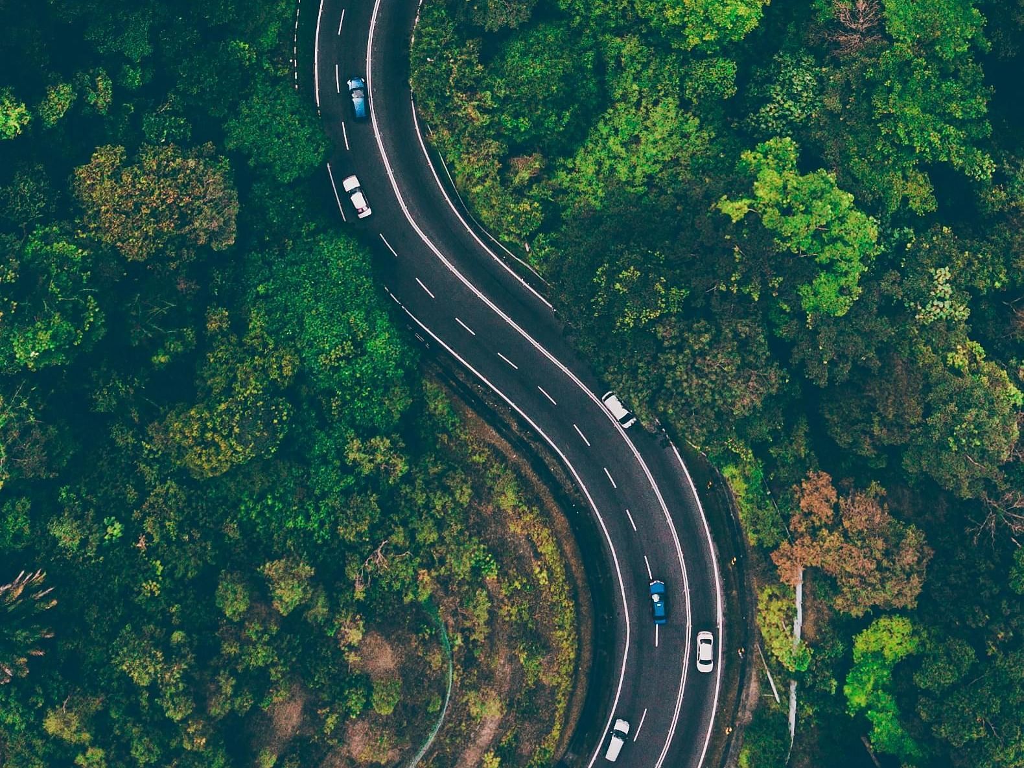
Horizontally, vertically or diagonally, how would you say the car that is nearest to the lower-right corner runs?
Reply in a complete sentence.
In this picture, the car that is nearest to the lower-right corner is oriented vertically.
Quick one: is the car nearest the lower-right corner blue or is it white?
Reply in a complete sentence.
The car nearest the lower-right corner looks white in the image.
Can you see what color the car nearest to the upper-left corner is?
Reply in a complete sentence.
The color of the car nearest to the upper-left corner is blue.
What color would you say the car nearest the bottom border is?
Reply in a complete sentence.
In this view, the car nearest the bottom border is white.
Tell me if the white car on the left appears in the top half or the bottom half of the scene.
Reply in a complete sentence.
You can find the white car on the left in the top half.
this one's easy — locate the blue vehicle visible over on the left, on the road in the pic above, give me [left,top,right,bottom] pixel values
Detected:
[347,79,370,123]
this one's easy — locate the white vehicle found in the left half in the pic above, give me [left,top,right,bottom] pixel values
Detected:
[343,174,374,220]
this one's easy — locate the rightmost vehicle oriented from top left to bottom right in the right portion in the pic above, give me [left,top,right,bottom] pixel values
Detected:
[600,389,636,430]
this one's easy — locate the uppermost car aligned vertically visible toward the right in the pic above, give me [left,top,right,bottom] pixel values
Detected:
[649,580,668,624]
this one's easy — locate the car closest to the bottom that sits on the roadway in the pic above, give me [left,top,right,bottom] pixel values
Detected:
[603,717,630,763]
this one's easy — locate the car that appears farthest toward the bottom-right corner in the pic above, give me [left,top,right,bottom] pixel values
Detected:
[695,630,715,672]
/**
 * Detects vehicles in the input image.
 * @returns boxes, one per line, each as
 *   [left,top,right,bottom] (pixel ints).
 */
[695,630,715,672]
[347,79,370,123]
[343,174,374,220]
[600,389,636,430]
[649,580,668,624]
[603,717,630,763]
